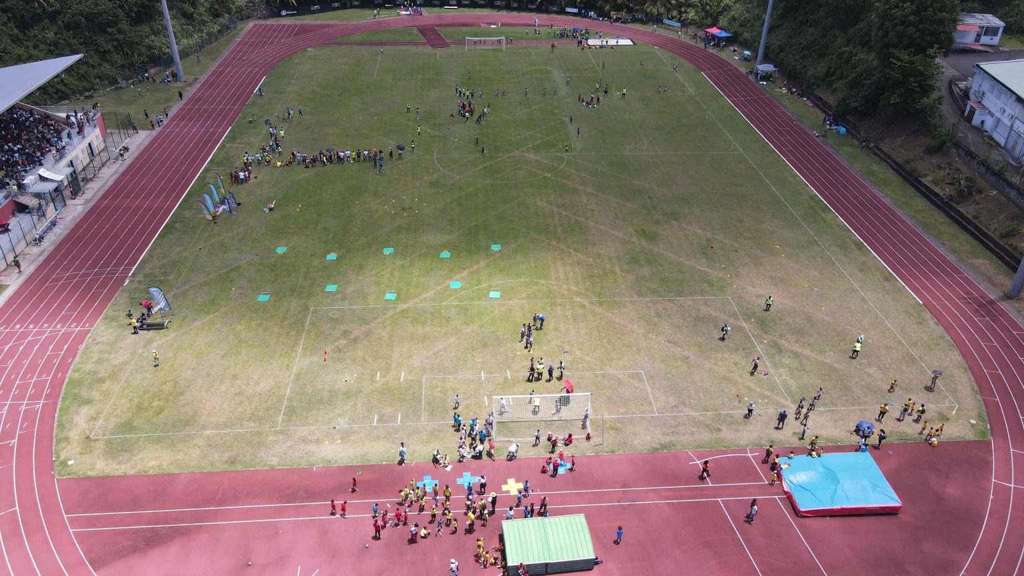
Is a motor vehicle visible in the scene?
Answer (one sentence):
No, I can see no motor vehicle in this picture.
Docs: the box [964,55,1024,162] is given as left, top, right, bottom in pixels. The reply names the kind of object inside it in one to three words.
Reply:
building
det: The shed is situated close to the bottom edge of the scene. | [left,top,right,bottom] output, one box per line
[501,512,597,576]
